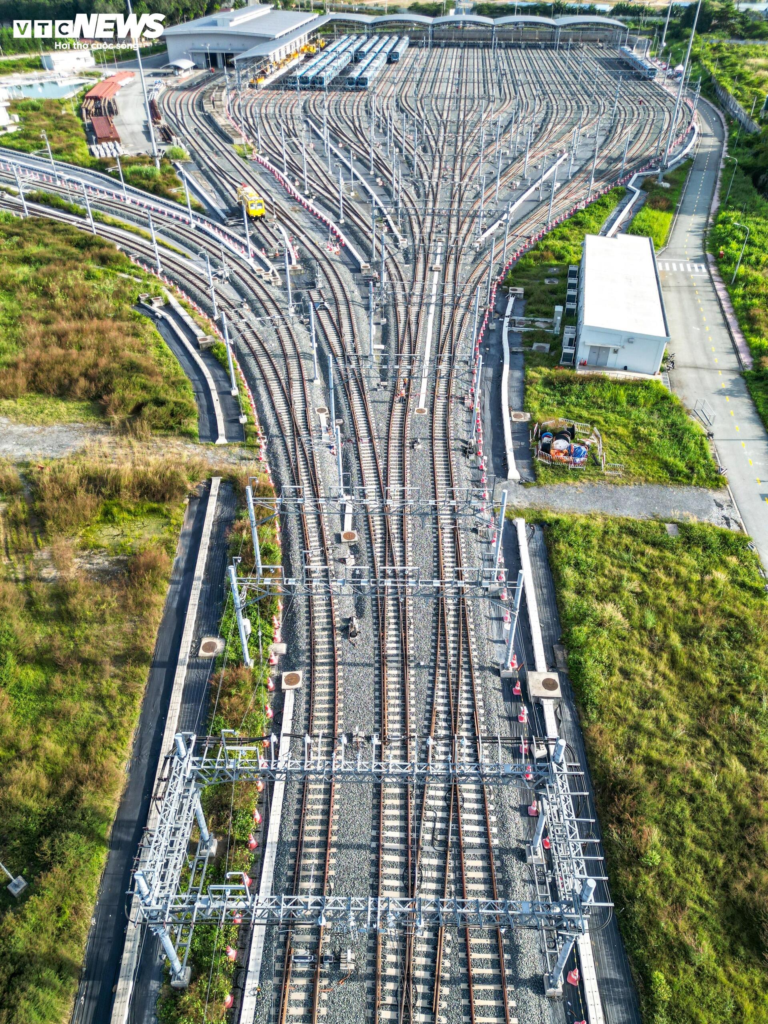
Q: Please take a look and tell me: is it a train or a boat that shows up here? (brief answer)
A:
train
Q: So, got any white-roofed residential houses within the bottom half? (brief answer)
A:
No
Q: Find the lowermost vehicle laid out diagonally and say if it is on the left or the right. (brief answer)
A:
left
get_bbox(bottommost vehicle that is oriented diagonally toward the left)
[228,173,265,219]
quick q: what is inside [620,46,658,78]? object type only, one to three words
train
